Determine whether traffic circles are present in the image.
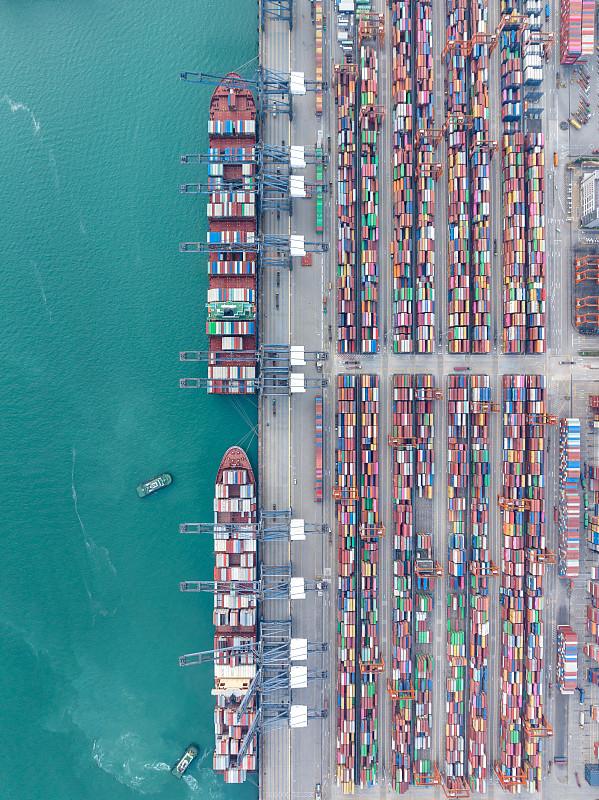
No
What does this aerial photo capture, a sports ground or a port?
port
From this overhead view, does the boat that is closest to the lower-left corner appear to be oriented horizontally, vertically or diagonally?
diagonally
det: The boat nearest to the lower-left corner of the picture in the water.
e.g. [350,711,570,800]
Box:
[171,745,198,777]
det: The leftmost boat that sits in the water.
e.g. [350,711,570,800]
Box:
[137,473,170,498]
